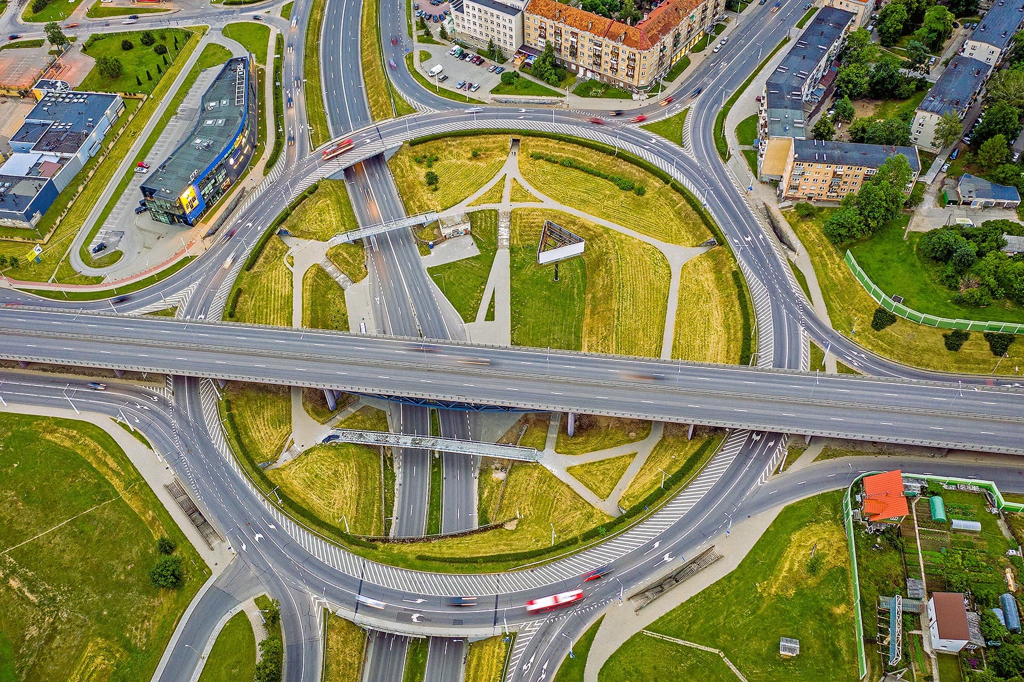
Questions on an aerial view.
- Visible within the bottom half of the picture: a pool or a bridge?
bridge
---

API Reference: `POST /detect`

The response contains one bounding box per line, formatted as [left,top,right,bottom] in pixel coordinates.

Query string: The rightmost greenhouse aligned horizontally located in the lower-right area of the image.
[951,521,983,537]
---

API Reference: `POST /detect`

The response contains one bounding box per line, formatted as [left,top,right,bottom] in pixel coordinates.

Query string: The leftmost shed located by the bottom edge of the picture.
[781,638,799,659]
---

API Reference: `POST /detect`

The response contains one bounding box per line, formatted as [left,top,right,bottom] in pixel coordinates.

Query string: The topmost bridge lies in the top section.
[283,102,417,207]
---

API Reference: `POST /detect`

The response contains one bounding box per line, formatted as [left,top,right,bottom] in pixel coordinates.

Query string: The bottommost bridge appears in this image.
[330,604,506,682]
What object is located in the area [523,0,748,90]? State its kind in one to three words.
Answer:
house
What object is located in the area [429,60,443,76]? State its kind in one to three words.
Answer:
vehicle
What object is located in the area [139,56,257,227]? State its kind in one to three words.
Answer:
building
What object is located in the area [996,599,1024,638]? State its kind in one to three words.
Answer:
greenhouse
